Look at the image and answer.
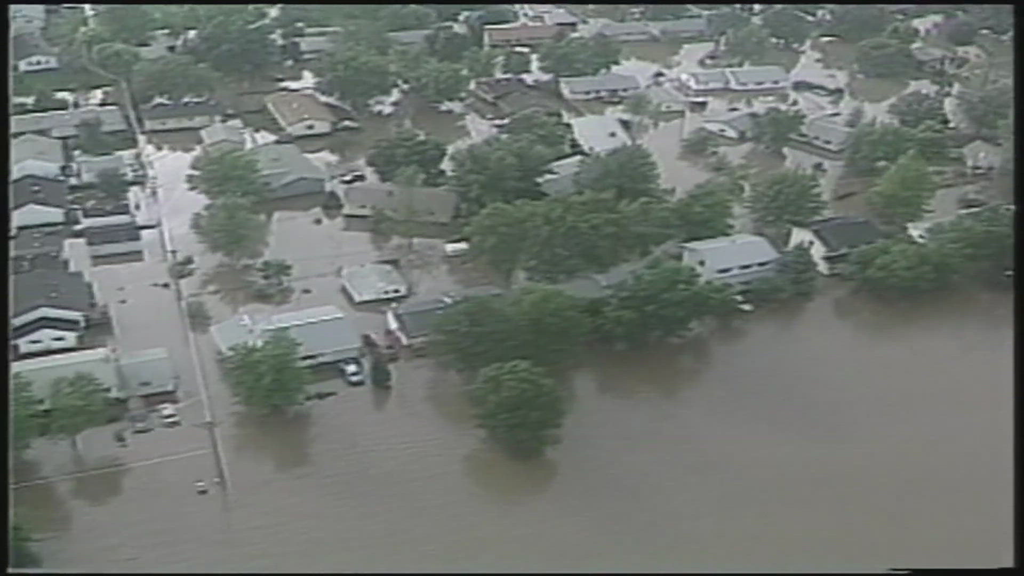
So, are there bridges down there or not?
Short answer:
No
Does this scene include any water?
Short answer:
Yes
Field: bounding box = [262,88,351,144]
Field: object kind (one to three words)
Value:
house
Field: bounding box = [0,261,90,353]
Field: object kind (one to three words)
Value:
house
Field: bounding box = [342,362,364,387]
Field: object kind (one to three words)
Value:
car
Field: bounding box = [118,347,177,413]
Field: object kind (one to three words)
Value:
building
